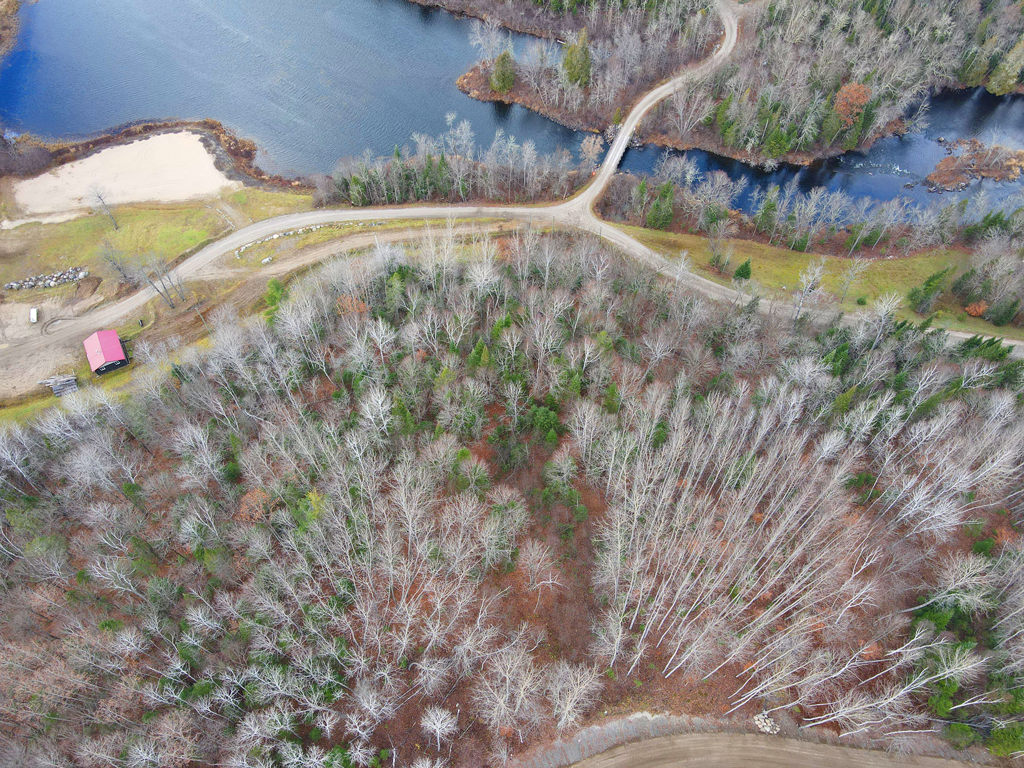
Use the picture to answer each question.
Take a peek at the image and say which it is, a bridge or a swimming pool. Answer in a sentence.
I can see a bridge in this picture.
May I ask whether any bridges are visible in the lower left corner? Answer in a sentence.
No, looking in the lower left corner, there is no bridge.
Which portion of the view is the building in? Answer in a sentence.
You can find the building in the left area of the picture.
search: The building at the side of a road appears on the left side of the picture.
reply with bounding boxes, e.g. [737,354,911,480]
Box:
[85,321,140,375]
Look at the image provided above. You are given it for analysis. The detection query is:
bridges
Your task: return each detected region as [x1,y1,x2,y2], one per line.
[595,126,637,177]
